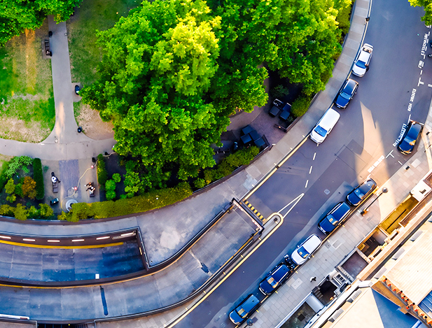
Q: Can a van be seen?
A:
Yes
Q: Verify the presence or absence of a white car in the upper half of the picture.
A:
Yes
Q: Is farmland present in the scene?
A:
No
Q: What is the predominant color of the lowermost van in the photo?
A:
blue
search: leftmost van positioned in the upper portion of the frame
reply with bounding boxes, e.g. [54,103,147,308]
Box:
[311,106,341,143]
